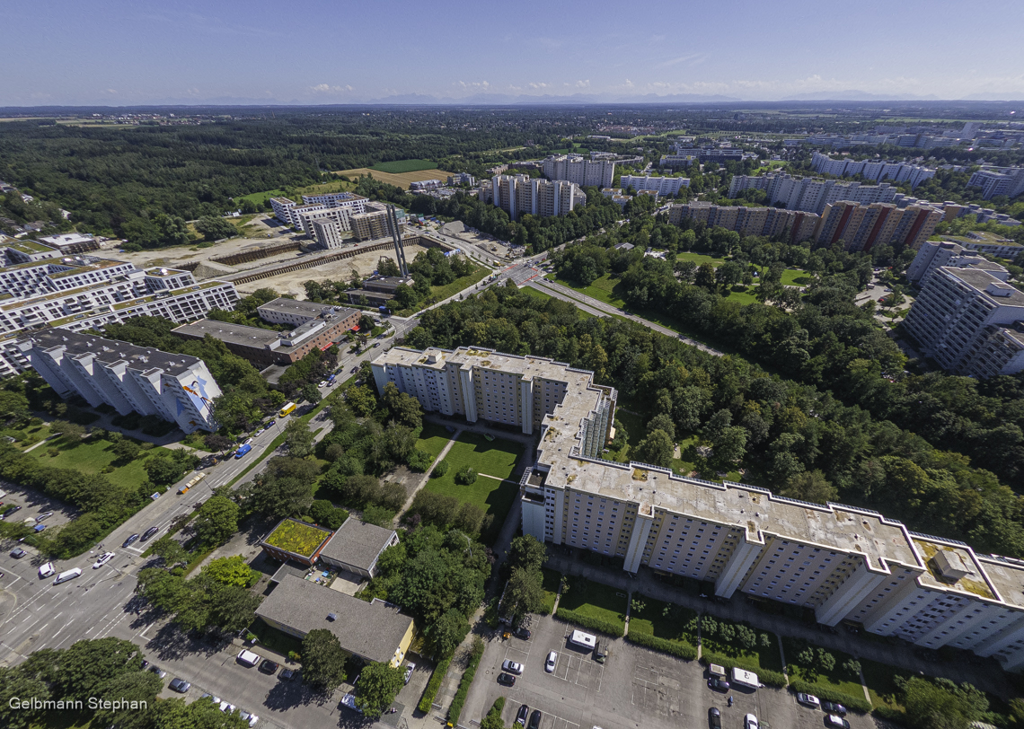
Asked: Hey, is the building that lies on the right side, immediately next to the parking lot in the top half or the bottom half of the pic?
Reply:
bottom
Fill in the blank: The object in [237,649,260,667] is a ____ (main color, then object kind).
white vehicle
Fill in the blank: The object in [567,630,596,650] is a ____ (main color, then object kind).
white camper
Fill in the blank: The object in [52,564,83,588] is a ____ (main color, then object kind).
white vehicle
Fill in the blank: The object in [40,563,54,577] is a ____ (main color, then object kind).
white car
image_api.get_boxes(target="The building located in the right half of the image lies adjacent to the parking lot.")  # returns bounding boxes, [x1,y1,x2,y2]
[371,346,1024,672]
